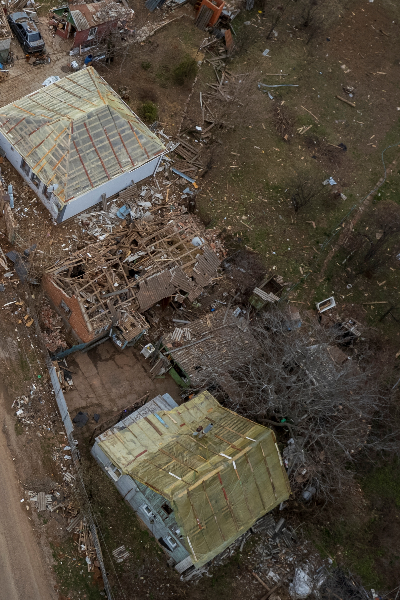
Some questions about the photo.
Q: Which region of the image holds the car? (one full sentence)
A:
The car is located in the top left region of the scene.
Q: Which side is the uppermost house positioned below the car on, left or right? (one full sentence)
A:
The uppermost house positioned below the car sits on the left side.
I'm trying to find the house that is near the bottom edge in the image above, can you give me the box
[87,393,292,574]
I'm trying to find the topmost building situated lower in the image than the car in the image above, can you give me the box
[0,66,169,231]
